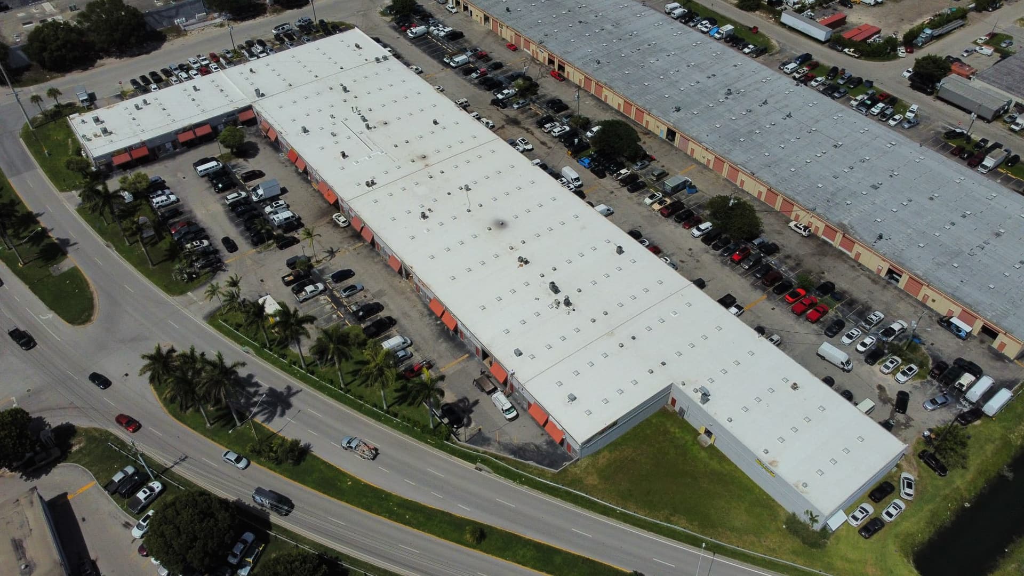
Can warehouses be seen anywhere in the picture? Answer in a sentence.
Yes, a warehouse appears in the view.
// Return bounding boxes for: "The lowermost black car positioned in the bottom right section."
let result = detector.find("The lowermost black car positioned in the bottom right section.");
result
[855,517,886,544]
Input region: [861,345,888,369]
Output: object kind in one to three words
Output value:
car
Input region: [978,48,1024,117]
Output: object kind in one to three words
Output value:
building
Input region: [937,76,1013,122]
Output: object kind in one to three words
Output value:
building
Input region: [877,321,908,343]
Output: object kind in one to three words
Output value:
truck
